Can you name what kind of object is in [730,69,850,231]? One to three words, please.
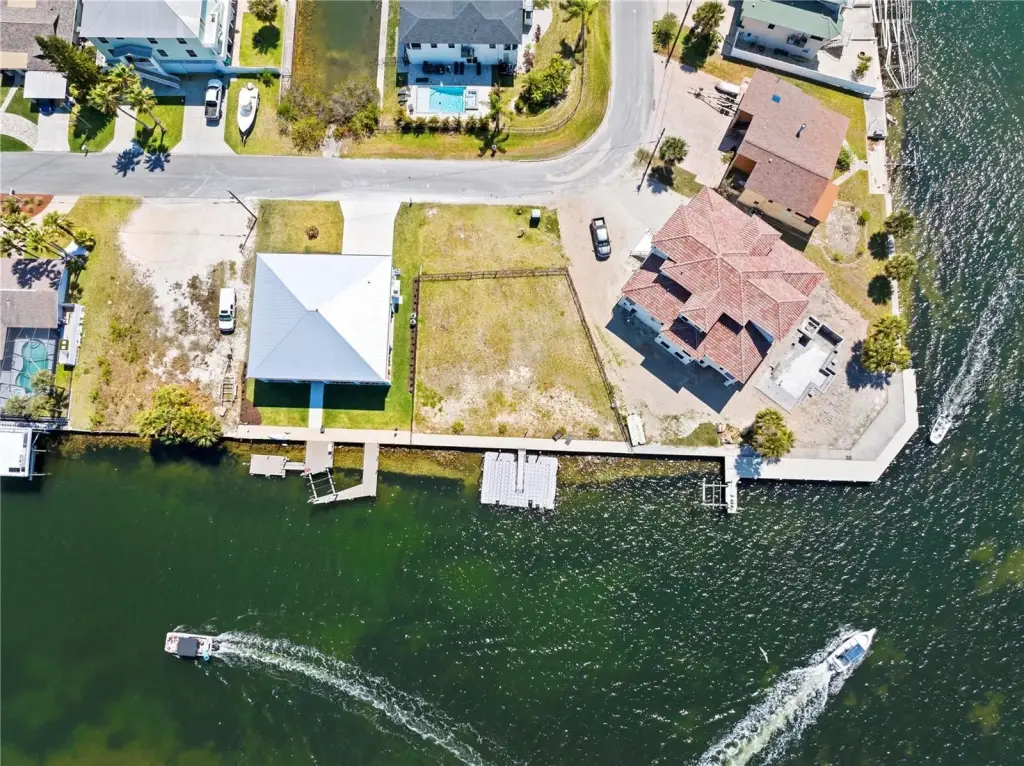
house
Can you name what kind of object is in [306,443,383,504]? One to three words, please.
pier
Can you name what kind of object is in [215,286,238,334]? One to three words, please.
vehicle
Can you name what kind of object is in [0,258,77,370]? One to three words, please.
house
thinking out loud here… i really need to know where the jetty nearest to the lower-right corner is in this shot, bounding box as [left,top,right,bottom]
[722,459,739,513]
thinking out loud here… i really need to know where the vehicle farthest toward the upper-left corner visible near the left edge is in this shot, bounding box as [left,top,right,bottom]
[36,99,55,115]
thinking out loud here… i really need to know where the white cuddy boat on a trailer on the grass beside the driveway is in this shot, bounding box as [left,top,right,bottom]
[237,76,255,130]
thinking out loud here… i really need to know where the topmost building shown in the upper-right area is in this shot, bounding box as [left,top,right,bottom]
[732,0,849,60]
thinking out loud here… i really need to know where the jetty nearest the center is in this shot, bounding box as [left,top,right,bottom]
[480,452,557,509]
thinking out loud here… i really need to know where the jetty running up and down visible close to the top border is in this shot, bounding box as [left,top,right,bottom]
[877,0,919,95]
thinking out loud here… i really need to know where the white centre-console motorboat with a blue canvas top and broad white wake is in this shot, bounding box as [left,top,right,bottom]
[823,631,876,676]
